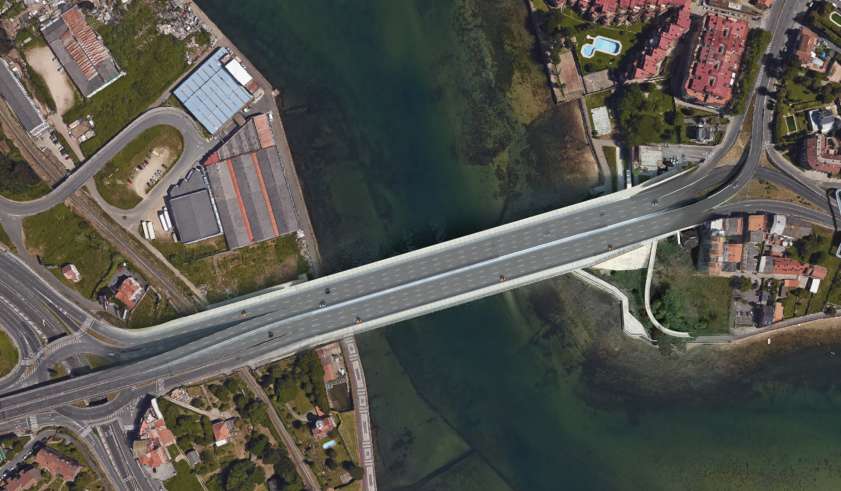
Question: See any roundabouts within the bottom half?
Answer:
Yes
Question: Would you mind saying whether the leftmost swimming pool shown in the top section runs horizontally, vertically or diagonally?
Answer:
horizontally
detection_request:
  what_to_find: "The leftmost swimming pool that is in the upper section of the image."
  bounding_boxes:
[582,36,622,57]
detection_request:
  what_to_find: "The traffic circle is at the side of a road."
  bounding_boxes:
[28,339,136,425]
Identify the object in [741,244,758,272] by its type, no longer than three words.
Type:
house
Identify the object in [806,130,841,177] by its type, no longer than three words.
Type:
building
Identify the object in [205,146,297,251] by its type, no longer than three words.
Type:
building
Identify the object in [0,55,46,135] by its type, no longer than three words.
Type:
shed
